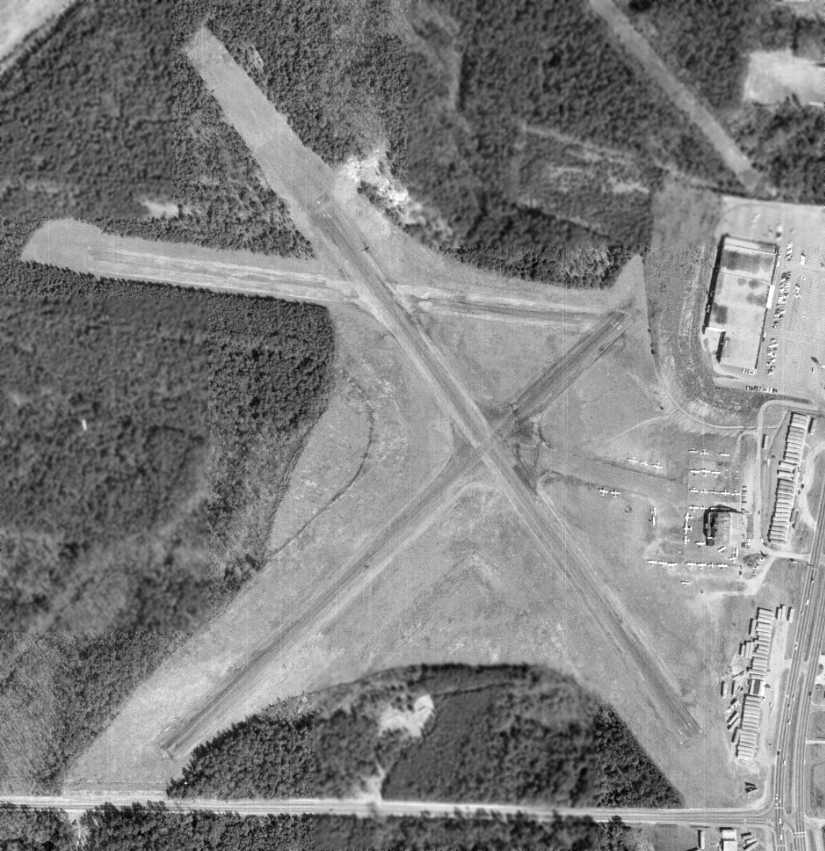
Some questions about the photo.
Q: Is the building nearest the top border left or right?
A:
right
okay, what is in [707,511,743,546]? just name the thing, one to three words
hangar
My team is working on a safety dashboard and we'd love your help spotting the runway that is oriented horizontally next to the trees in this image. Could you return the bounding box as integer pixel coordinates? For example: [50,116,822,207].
[81,245,612,330]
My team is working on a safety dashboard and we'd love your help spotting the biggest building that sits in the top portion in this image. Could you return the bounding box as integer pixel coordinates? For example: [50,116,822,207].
[706,238,779,368]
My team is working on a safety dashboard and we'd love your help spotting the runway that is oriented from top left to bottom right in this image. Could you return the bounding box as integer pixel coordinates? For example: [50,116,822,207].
[317,198,701,737]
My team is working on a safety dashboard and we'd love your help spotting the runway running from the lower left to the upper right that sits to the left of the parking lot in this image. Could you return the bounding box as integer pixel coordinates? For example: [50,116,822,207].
[161,310,629,759]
